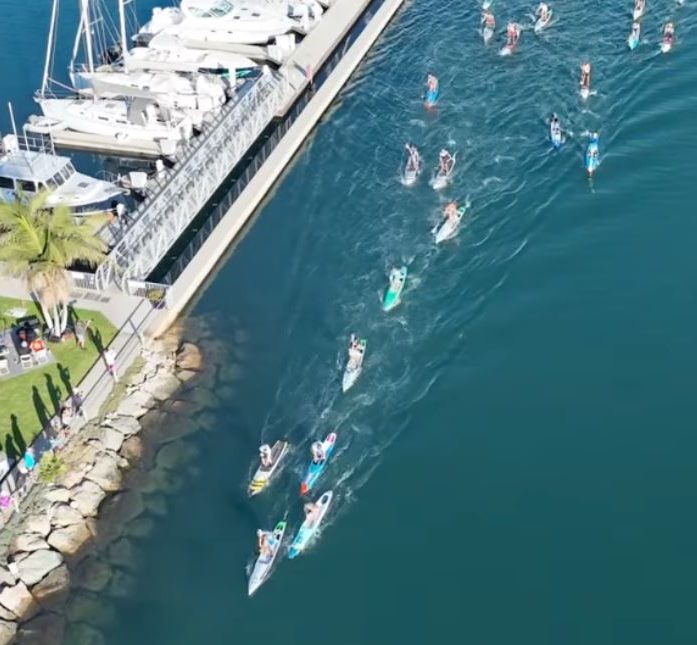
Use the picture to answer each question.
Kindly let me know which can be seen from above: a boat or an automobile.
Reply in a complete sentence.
Of the two, only a boat appears.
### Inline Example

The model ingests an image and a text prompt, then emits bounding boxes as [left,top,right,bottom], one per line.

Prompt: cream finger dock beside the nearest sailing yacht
[23,132,193,163]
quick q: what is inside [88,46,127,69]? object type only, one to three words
boat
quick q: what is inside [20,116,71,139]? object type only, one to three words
boat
